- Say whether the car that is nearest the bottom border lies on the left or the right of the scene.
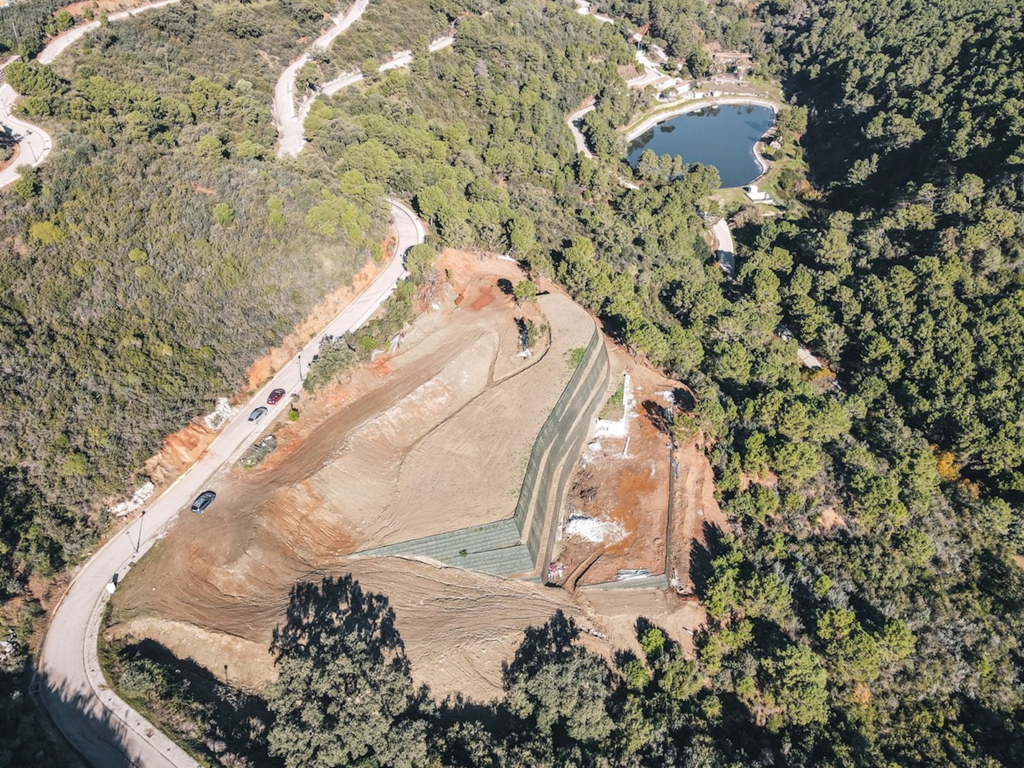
left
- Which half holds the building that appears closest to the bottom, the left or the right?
right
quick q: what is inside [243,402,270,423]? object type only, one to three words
car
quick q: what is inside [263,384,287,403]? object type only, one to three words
car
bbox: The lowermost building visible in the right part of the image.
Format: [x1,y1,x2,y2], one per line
[742,177,775,202]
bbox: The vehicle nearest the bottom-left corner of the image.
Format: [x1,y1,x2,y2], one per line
[185,486,219,515]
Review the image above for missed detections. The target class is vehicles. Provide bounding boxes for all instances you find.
[263,384,287,403]
[185,486,219,515]
[243,402,270,423]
